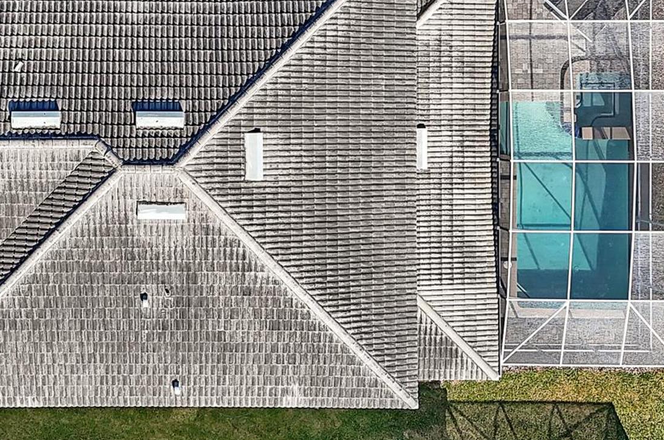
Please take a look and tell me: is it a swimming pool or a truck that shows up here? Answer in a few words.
swimming pool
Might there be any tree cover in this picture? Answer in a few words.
No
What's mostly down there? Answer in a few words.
buildings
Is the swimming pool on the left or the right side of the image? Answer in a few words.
right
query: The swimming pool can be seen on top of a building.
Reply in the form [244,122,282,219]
[501,55,640,317]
